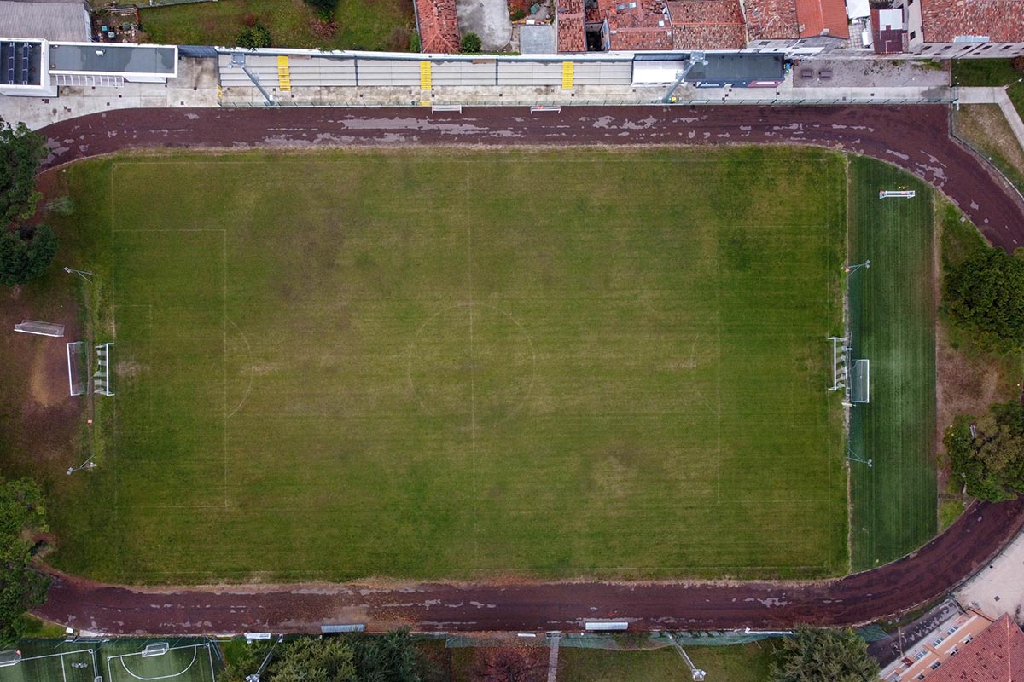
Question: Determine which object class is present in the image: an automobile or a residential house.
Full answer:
It is a residential house that can be seen here.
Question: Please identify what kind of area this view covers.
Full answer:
The area seen from above is a sports ground.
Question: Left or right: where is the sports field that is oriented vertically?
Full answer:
The sports field that is oriented vertically appears in the right half of the scene.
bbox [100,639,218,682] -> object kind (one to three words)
sports field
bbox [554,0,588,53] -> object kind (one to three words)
house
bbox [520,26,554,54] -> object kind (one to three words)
shed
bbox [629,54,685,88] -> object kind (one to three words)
building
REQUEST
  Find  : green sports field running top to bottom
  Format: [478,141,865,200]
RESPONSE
[845,150,938,577]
